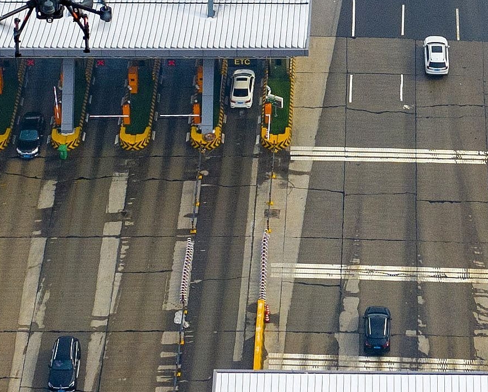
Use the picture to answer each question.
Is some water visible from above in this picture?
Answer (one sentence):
No, there's no water in this view.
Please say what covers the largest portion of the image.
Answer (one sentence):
For the most part, this view shows paved ground.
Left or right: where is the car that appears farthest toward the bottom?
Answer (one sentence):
The car that appears farthest toward the bottom sits on the left side.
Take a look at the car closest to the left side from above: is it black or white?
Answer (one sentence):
The car closest to the left side is black.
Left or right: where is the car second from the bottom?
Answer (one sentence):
The car second from the bottom appears in the right half of the scene.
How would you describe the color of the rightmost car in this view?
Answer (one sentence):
The rightmost car is white.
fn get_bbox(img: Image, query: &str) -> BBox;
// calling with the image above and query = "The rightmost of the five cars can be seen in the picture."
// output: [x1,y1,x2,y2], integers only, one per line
[423,39,451,76]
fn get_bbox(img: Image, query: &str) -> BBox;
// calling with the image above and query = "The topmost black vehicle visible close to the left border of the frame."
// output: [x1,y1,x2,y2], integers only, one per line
[16,115,49,157]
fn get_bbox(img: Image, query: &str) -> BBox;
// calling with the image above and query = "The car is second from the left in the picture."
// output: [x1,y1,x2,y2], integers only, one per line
[48,338,84,392]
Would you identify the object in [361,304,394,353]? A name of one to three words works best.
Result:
car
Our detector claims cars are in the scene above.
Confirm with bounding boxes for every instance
[48,338,84,392]
[423,39,451,76]
[229,69,258,107]
[361,304,394,353]
[16,115,49,157]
